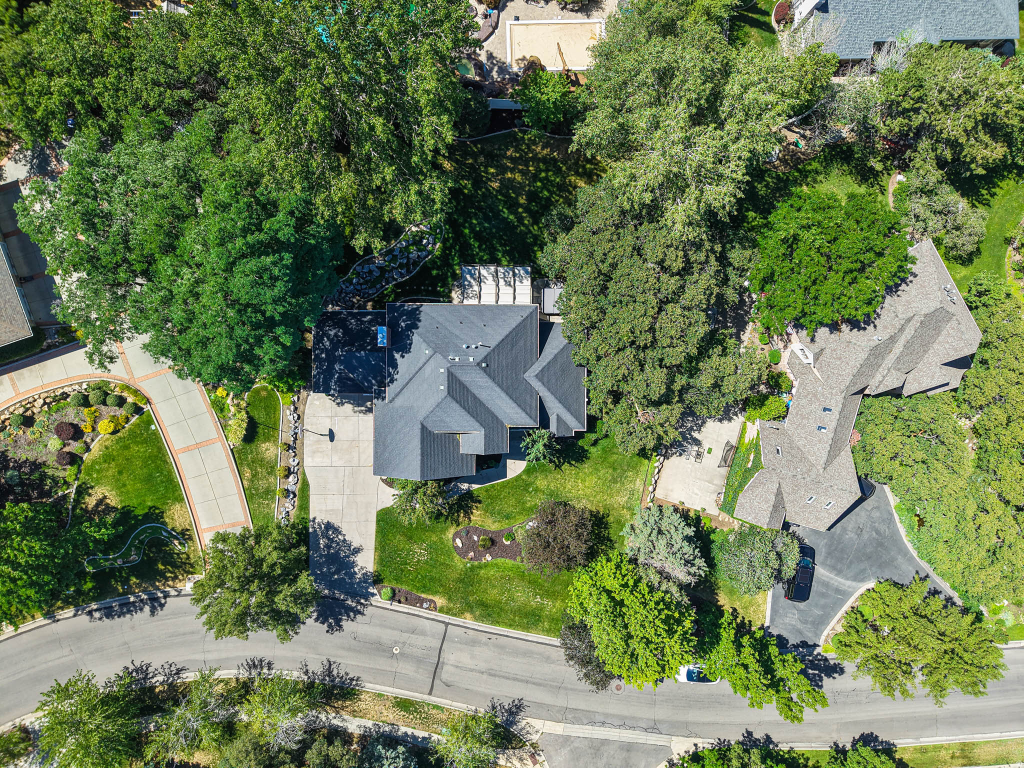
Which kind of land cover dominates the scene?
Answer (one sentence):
The largest share of the image is taken up by trees.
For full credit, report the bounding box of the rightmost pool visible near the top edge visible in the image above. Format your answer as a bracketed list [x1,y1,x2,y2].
[506,17,606,70]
